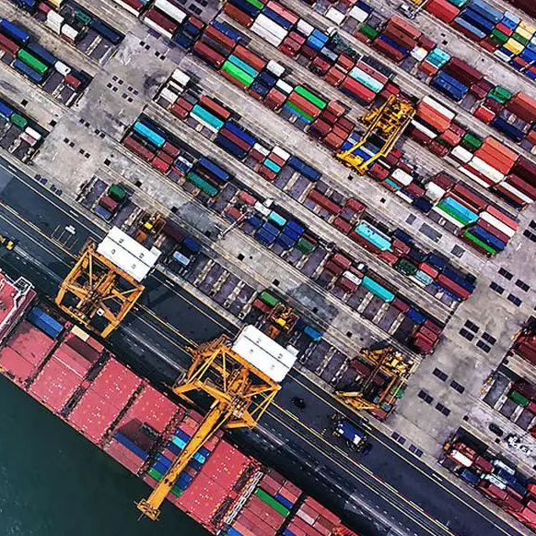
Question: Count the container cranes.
four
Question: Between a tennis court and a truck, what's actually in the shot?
truck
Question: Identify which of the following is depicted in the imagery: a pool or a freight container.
freight container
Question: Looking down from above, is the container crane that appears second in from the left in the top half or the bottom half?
bottom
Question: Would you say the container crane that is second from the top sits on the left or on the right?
left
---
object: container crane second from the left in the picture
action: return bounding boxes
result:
[134,302,308,523]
